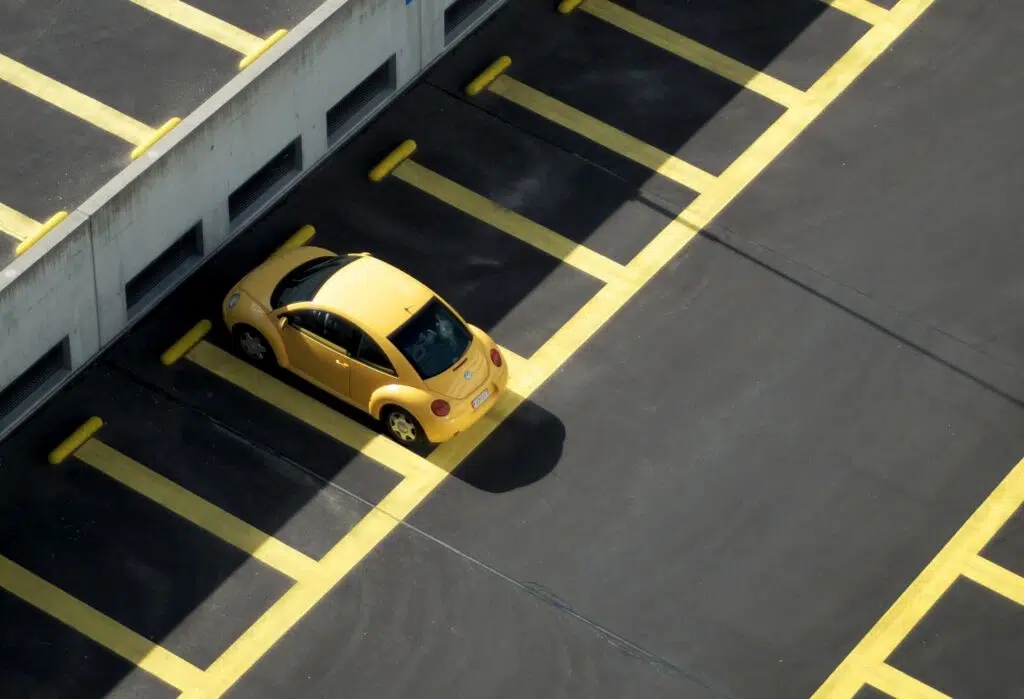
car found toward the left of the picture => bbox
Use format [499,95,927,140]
[224,244,508,445]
